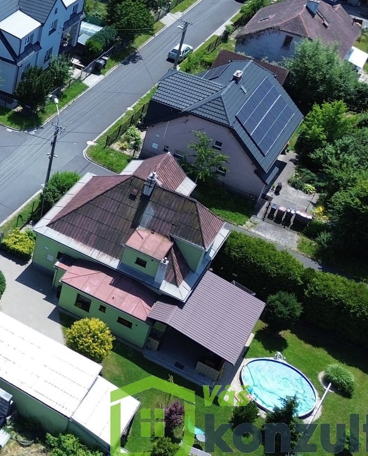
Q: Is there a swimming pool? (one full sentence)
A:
Yes, there is a swimming pool in the image.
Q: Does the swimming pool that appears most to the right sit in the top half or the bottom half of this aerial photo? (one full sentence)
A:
You can find the swimming pool that appears most to the right in the bottom half.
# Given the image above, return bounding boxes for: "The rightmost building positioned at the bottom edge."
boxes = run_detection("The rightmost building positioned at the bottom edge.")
[67,375,153,456]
